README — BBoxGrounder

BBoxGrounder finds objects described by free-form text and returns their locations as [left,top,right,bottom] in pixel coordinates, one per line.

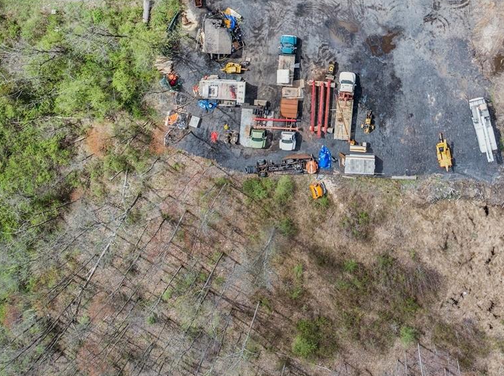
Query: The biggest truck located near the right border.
[469,94,497,164]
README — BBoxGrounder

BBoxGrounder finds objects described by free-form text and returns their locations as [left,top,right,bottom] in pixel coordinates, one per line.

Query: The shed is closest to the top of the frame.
[201,24,233,64]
